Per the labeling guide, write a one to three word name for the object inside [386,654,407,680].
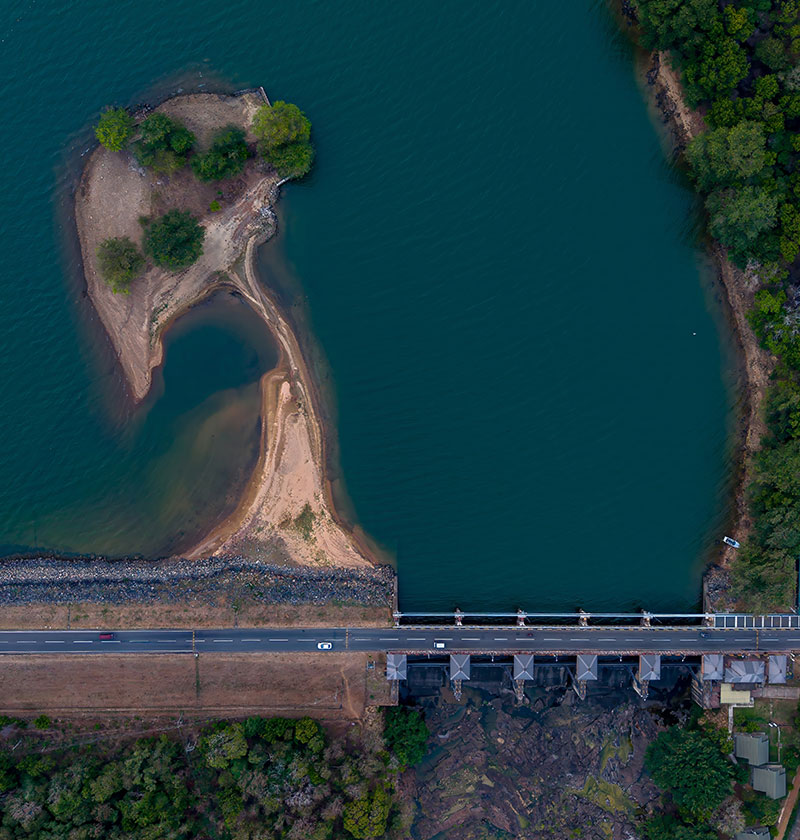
building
